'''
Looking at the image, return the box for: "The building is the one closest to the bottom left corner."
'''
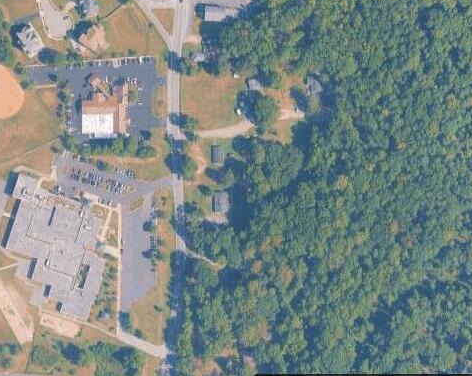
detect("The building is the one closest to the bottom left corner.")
[6,173,106,321]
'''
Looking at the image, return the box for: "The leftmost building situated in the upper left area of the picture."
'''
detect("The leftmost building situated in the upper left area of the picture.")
[17,26,42,55]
